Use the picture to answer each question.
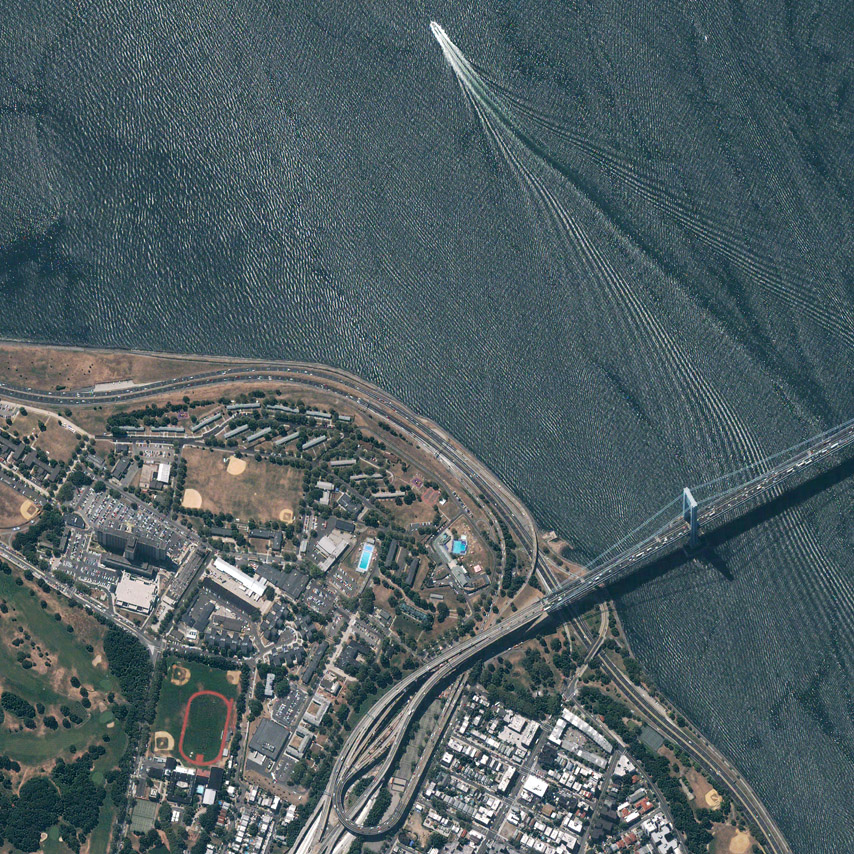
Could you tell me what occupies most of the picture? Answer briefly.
water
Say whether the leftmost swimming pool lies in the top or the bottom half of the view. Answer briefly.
bottom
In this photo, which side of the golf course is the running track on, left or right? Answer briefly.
to the right of it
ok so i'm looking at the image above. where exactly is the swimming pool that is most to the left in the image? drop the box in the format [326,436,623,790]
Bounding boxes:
[355,539,375,574]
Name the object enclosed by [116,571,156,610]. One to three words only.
building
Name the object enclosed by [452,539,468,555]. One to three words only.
swimming pool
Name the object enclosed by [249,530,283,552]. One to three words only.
building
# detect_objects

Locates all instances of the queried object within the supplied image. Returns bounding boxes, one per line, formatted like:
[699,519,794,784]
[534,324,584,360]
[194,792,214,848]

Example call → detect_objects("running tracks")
[179,690,236,766]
